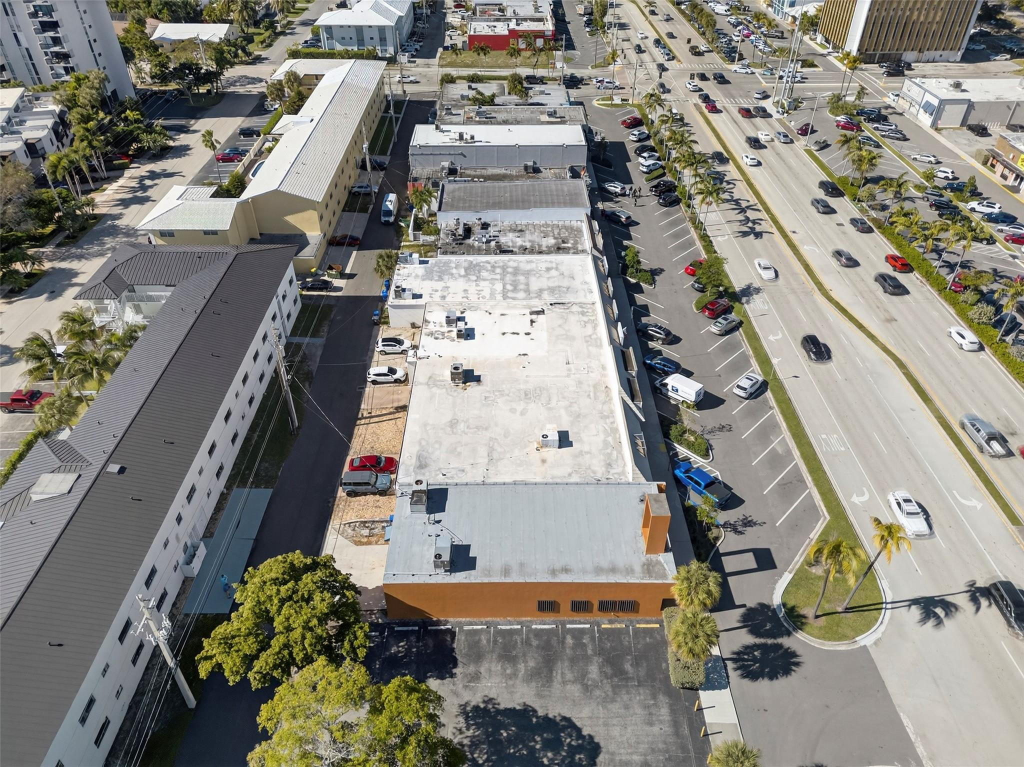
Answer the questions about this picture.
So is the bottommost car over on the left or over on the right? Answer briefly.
right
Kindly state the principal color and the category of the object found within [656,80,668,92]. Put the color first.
gray vehicle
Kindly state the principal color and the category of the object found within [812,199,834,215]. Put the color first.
gray car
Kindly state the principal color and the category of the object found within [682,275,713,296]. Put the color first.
gray car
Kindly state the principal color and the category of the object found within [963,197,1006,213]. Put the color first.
white car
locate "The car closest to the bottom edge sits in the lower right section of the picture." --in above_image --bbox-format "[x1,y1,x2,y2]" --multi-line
[985,573,1024,641]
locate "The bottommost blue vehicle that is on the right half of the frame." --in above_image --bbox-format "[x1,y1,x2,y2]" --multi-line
[669,459,739,507]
